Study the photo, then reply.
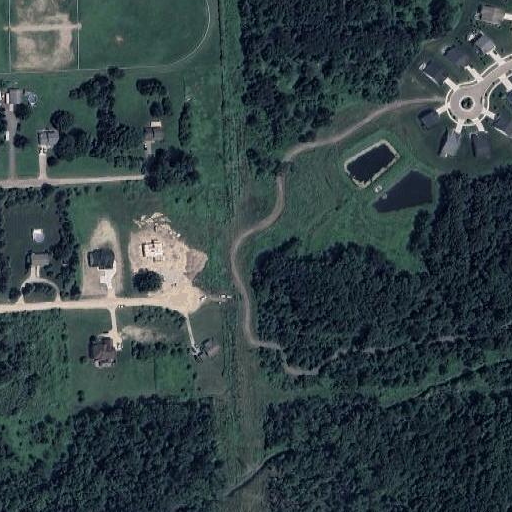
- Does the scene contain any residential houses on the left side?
Yes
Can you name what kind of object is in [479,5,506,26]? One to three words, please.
house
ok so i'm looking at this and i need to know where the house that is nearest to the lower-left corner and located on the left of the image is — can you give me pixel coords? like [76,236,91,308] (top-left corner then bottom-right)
[90,337,115,365]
